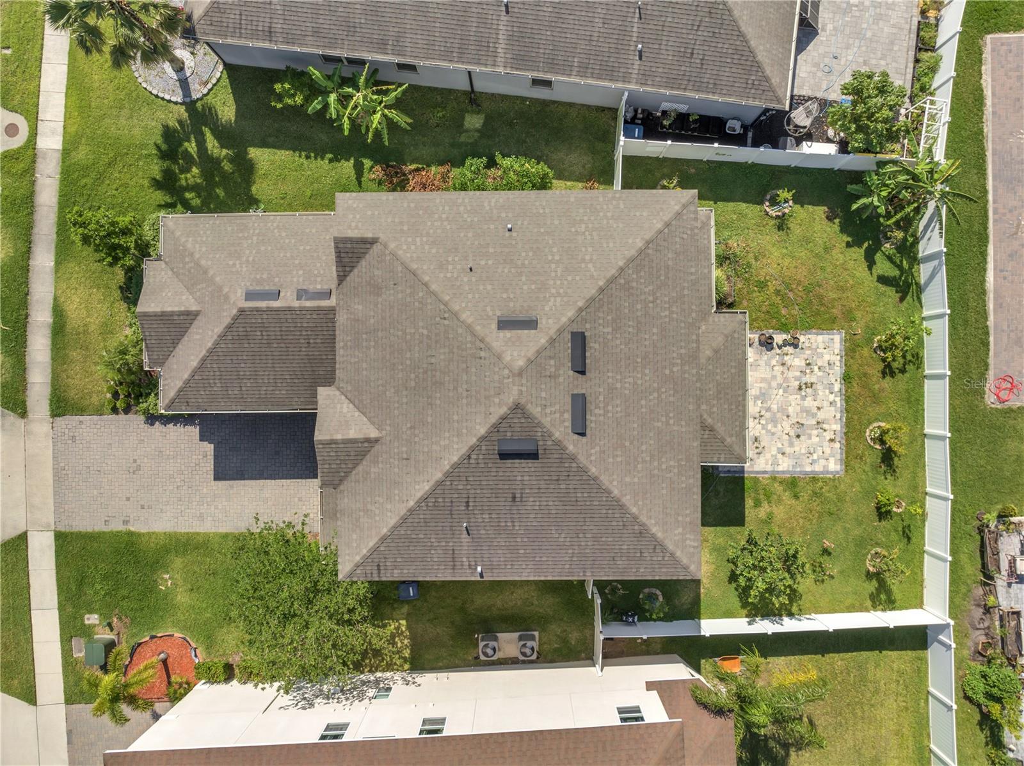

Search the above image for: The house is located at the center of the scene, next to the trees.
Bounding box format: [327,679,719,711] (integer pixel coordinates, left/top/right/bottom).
[135,189,752,583]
